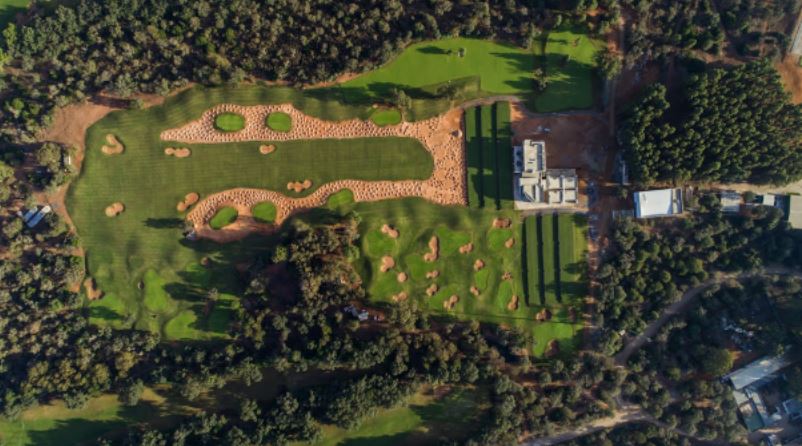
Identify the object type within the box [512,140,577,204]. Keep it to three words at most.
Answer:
building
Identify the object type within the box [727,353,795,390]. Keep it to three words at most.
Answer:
barn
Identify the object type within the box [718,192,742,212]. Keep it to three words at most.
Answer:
house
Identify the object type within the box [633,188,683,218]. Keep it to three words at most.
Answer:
shed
